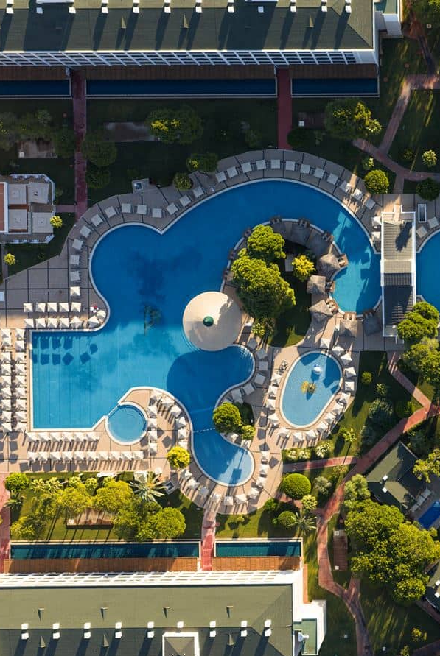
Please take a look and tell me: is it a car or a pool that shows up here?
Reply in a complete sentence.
It is a pool that can be seen here.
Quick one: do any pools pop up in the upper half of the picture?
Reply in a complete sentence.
Yes, you'll find a pool in the upper half of the picture.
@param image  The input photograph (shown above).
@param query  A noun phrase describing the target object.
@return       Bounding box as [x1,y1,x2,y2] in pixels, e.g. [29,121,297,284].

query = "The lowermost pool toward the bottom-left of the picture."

[9,542,199,559]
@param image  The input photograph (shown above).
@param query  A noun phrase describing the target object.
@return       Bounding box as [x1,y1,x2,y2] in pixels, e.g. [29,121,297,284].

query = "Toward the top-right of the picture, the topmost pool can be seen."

[290,78,379,97]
